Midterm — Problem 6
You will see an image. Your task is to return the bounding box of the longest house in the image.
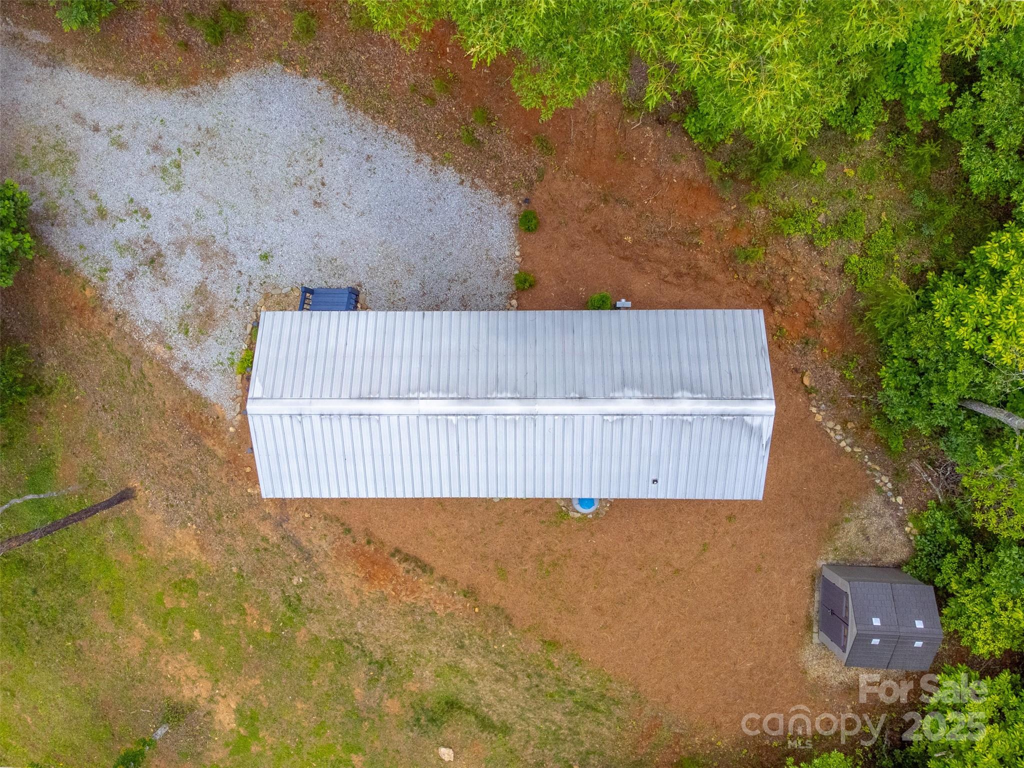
[245,310,778,498]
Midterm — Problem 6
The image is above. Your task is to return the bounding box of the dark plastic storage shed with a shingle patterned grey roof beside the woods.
[818,565,952,669]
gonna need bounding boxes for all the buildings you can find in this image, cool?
[818,565,952,669]
[245,310,778,498]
